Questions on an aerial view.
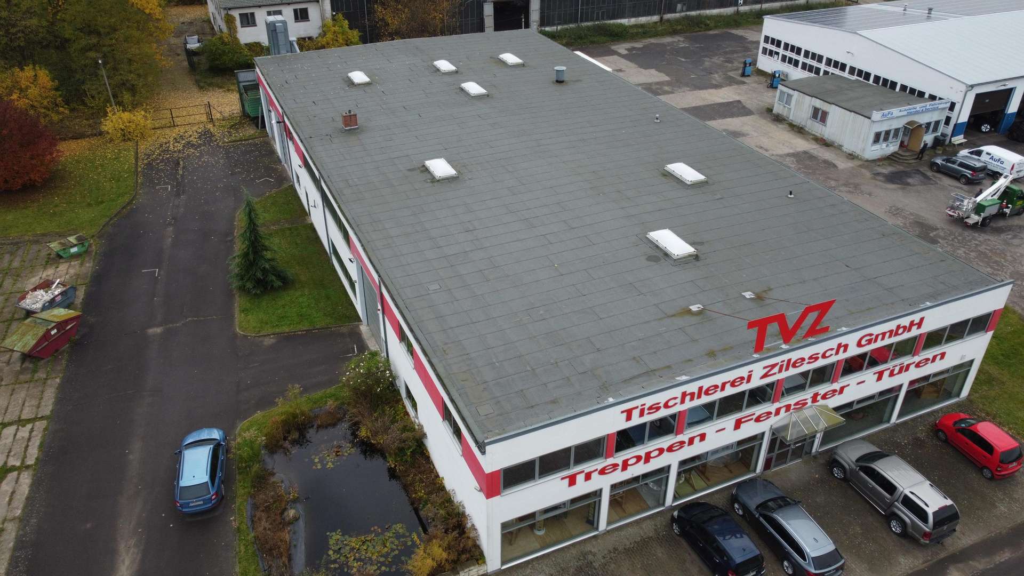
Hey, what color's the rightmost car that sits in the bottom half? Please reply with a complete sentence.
From above, the rightmost car that sits in the bottom half appears red.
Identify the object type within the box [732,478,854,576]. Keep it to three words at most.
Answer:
car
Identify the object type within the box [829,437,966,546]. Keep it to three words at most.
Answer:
truck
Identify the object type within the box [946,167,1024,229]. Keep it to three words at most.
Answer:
truck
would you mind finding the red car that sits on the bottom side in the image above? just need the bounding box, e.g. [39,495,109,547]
[941,417,1024,485]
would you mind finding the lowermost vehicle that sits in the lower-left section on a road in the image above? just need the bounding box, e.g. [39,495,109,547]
[169,427,227,521]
